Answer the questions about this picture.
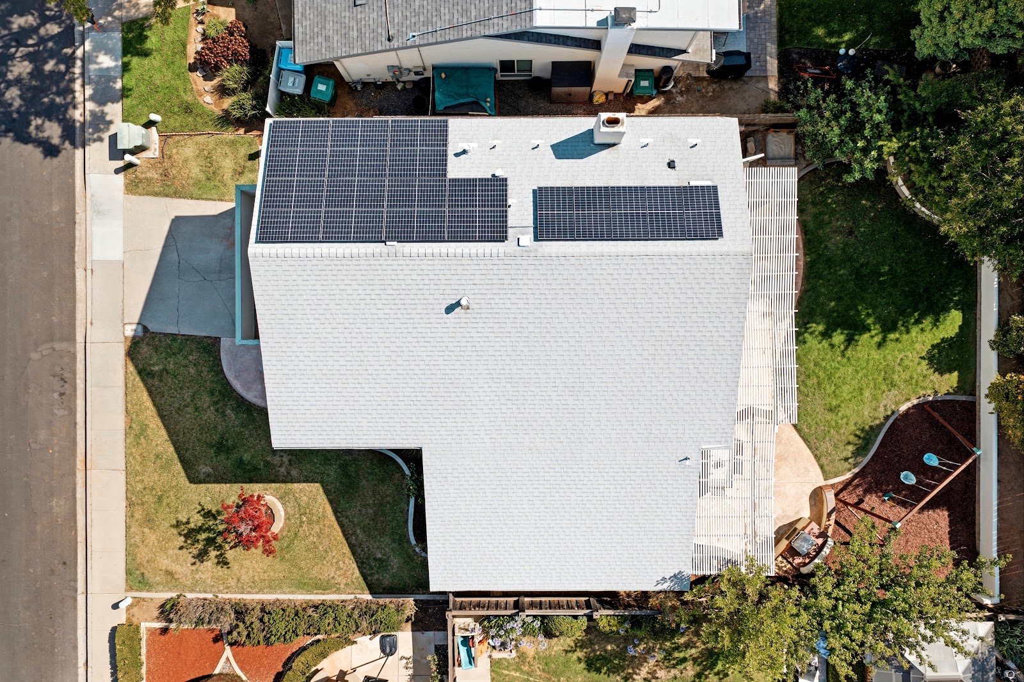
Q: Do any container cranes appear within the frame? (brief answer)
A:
No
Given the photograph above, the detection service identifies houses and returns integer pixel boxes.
[294,0,743,98]
[236,116,767,593]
